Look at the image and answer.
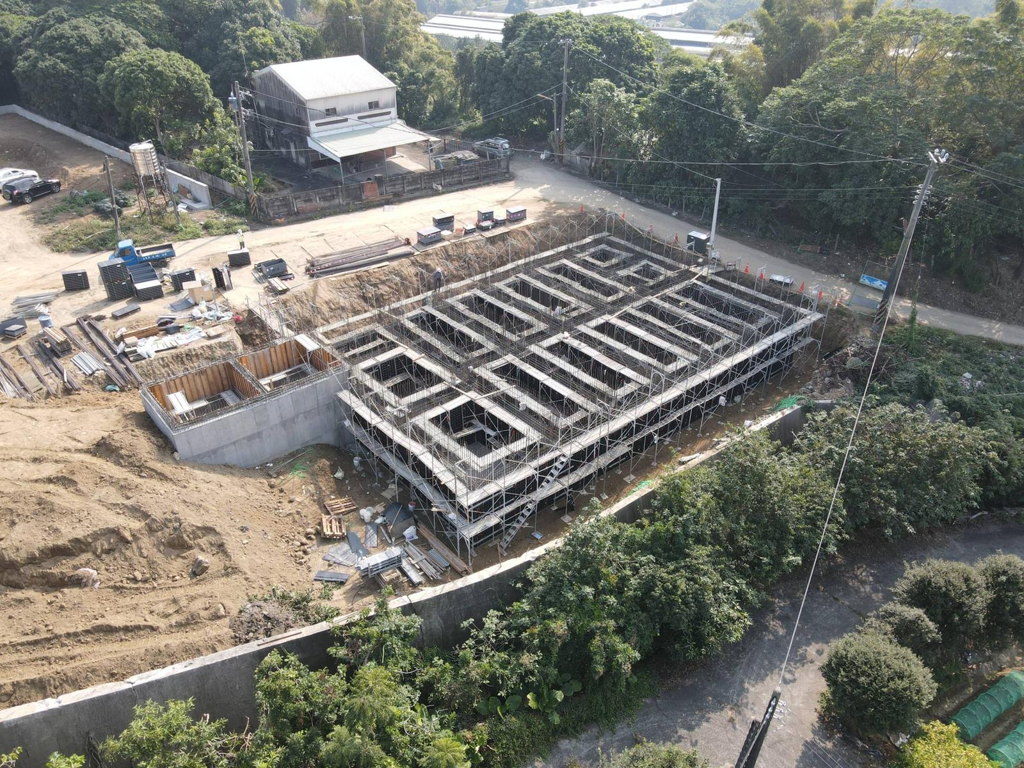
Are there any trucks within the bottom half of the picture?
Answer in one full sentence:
No, there is no truck within the bottom half of the picture.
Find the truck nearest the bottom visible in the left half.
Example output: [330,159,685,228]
[111,232,179,269]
